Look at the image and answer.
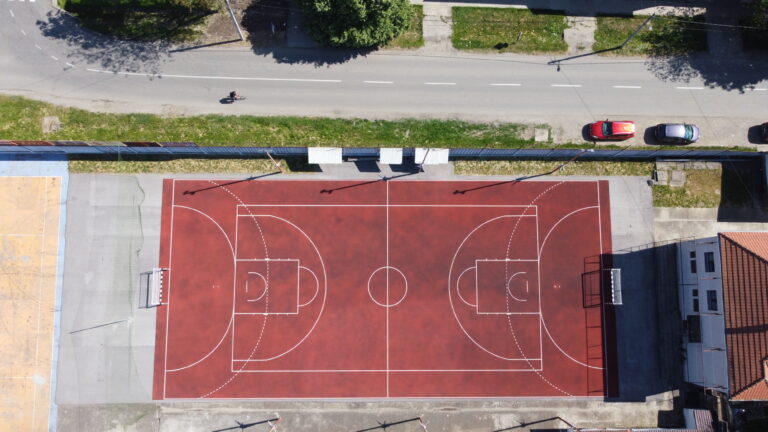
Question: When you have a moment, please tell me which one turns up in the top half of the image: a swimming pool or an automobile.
automobile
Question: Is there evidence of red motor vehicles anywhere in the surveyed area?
Yes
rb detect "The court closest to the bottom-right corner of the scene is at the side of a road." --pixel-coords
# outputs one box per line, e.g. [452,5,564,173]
[153,178,619,400]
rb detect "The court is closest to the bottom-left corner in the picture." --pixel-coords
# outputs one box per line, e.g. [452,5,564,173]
[0,154,69,432]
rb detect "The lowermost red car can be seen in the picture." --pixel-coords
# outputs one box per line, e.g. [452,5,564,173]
[589,119,635,141]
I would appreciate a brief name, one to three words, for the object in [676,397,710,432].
shed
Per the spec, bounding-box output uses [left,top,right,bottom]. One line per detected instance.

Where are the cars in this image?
[756,124,768,142]
[589,119,635,141]
[653,122,699,142]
